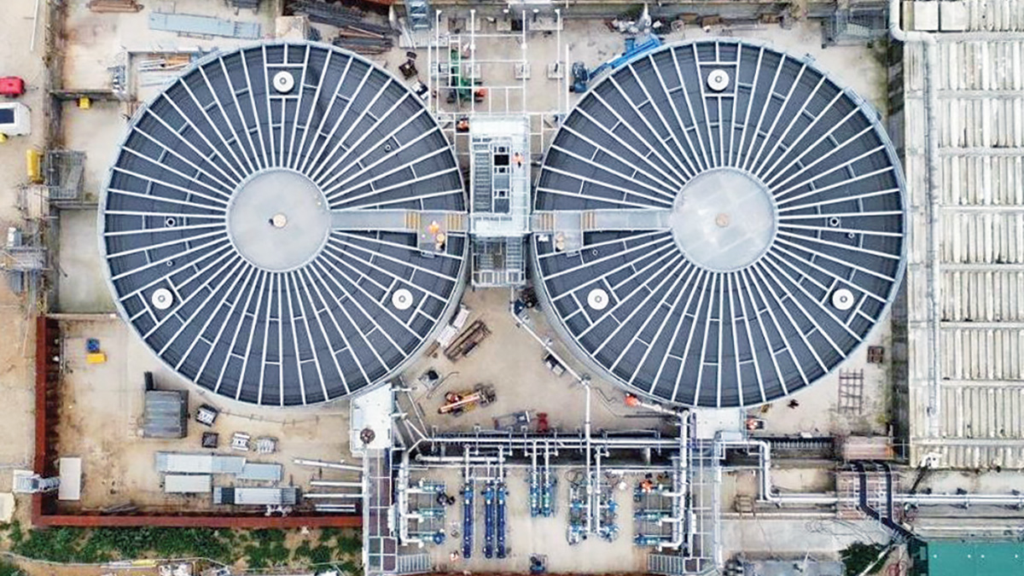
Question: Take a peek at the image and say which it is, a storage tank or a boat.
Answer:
storage tank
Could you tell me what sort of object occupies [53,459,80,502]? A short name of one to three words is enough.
building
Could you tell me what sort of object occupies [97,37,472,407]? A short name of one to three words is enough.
storage tank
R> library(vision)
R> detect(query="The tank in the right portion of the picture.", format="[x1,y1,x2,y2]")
[530,36,908,409]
